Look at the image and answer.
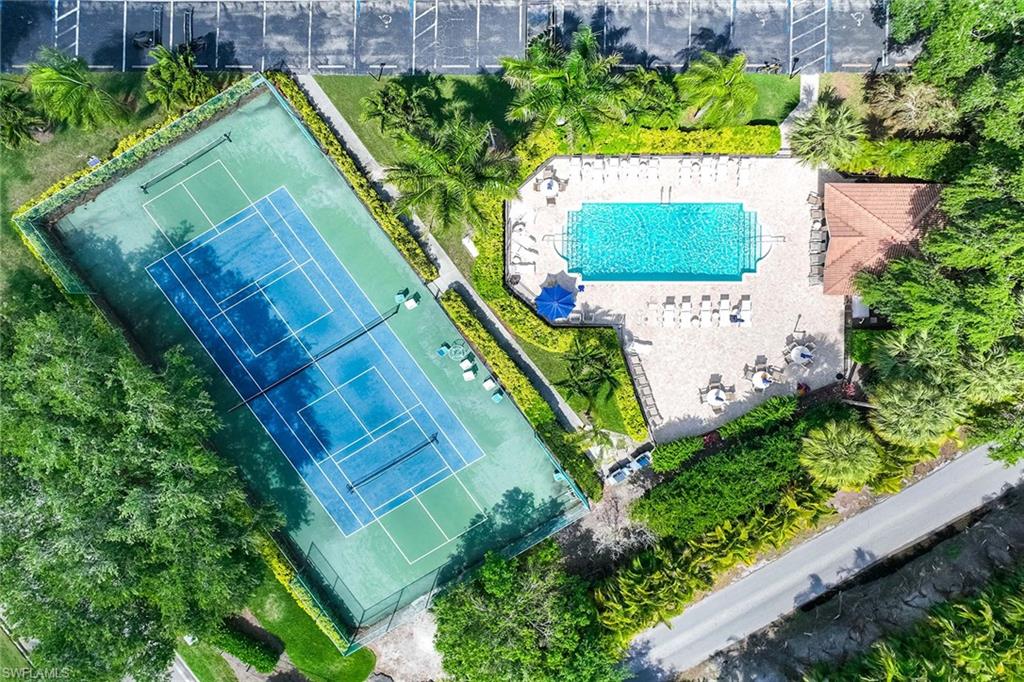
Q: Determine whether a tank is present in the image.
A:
No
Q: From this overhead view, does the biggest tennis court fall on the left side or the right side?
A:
left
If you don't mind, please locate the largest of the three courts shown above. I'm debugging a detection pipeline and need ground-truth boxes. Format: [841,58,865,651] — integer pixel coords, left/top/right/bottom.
[58,92,576,633]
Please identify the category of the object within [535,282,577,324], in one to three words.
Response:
umbrella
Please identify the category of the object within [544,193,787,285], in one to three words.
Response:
swimming pool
